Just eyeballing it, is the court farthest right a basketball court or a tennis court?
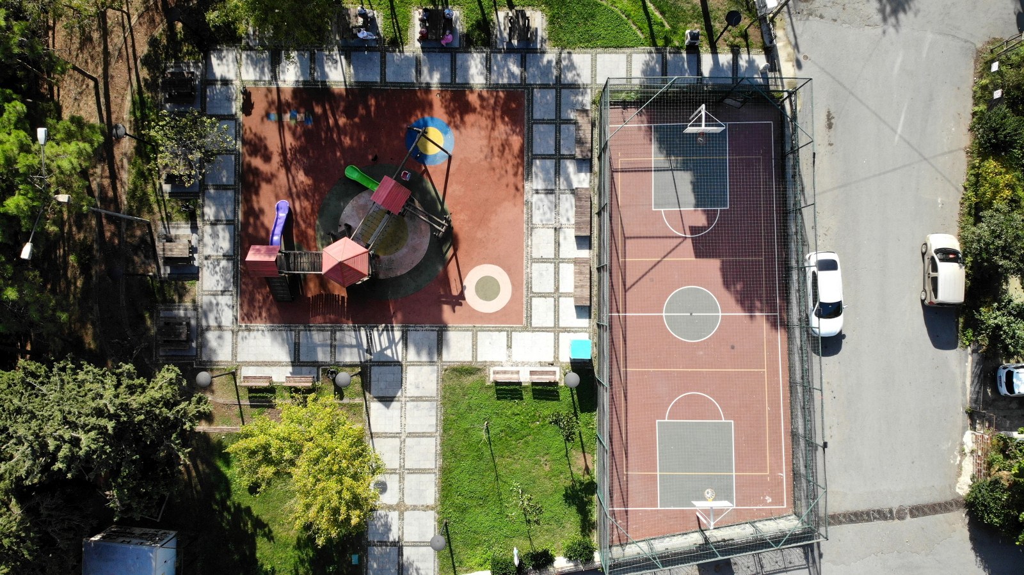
basketball court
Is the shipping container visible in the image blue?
Yes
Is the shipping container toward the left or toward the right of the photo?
left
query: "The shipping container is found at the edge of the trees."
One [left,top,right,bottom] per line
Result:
[82,526,180,575]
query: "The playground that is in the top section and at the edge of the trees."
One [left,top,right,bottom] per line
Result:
[236,86,527,331]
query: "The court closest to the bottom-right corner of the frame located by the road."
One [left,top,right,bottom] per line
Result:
[607,103,794,544]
